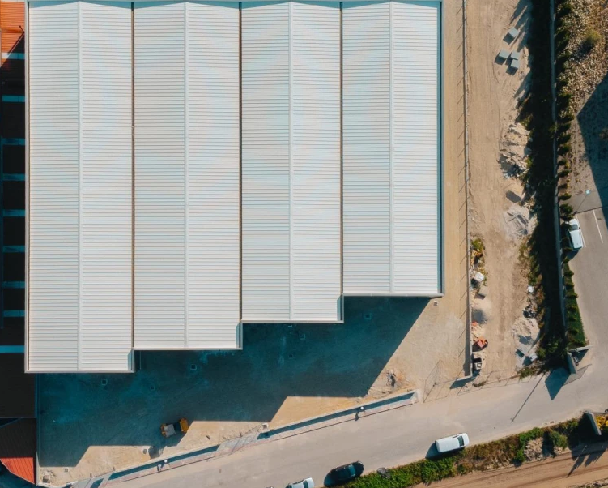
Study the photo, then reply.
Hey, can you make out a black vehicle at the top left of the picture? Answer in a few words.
No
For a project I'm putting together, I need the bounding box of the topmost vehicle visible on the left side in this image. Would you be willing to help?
[162,415,191,436]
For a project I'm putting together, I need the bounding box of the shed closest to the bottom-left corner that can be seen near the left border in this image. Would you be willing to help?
[0,417,38,484]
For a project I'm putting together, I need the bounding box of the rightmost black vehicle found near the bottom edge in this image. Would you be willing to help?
[326,462,364,485]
